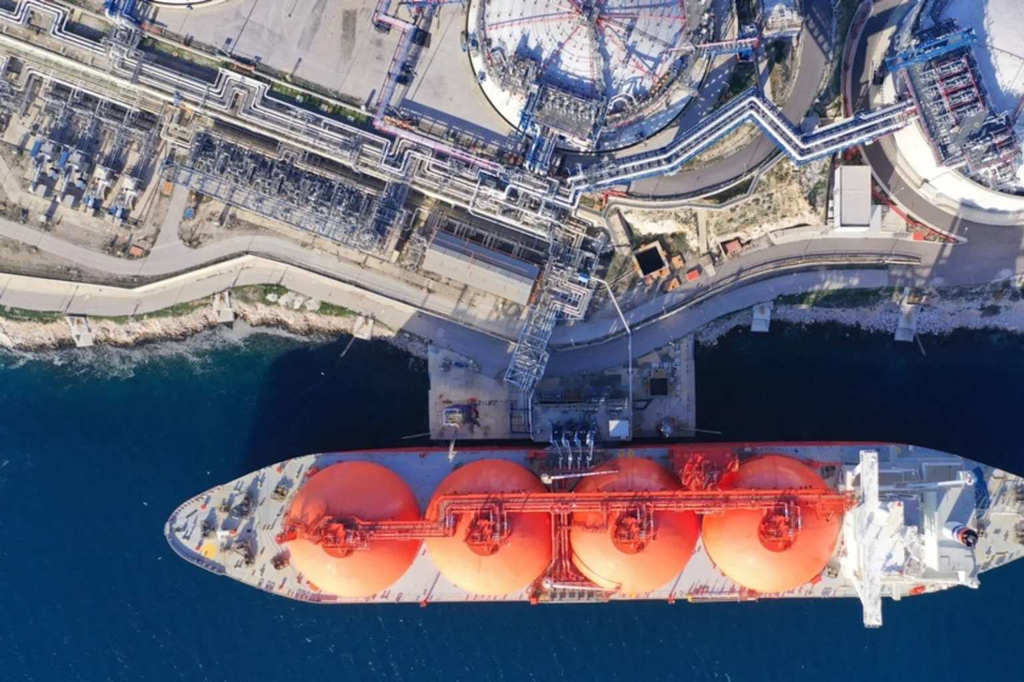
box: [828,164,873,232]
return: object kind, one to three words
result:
building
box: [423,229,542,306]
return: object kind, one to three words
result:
shed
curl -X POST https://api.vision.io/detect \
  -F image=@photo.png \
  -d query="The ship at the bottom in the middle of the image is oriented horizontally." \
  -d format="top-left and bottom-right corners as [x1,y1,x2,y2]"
[162,441,1024,629]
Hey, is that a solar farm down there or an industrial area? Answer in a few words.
industrial area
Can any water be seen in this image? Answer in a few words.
Yes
